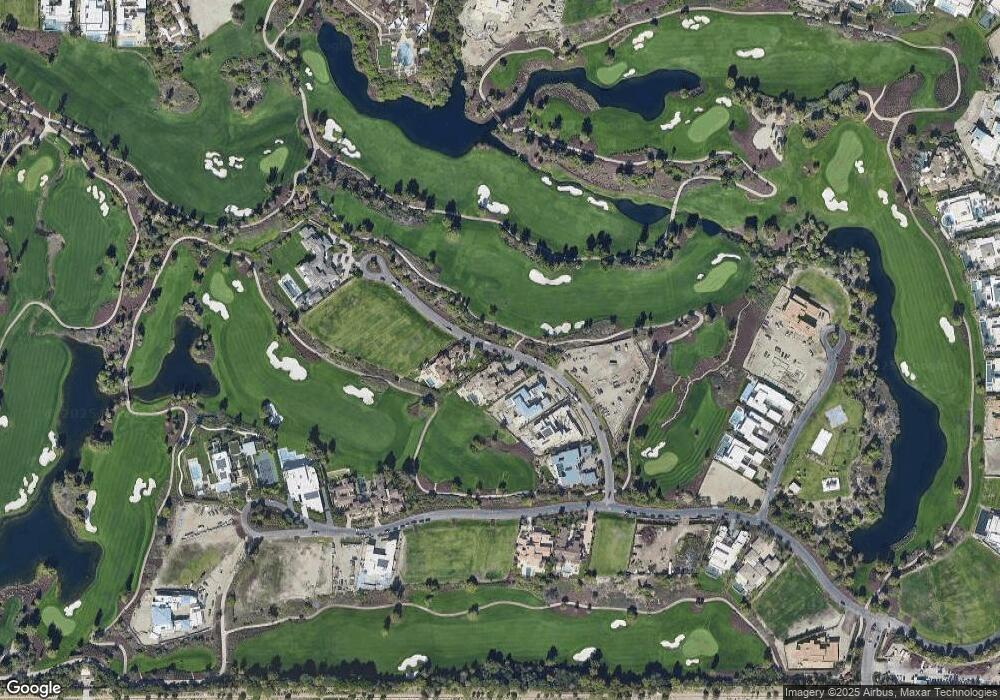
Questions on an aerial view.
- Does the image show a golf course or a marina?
golf course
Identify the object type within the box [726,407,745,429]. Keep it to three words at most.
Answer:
swimming pool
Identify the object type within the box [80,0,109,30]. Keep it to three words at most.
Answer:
house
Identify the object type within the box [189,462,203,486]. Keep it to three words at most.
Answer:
swimming pool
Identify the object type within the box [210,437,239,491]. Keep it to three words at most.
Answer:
house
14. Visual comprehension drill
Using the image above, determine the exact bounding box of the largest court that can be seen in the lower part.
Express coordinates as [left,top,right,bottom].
[256,449,279,485]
